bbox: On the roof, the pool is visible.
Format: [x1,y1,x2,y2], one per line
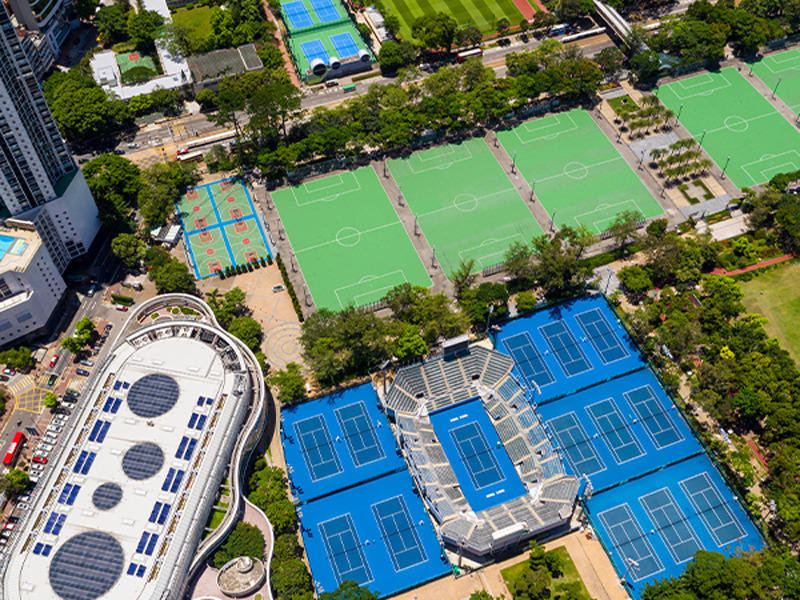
[0,236,27,259]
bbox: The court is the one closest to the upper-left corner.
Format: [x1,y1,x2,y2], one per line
[114,48,163,83]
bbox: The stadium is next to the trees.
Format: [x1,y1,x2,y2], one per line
[386,344,580,562]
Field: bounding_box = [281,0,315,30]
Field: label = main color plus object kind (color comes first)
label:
blue tennis court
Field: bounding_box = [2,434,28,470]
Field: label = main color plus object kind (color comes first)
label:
red bus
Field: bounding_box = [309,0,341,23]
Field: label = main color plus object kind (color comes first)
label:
blue tennis court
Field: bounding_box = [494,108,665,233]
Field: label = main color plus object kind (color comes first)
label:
green soccer field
